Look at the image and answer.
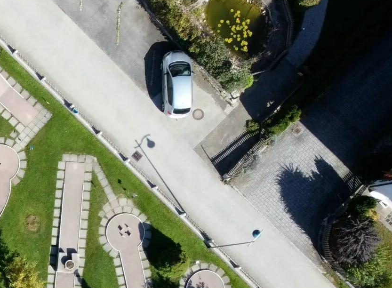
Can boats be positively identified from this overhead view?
No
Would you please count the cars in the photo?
one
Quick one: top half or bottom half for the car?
top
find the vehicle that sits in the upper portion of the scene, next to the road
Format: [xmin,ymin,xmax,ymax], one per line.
[158,55,195,120]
